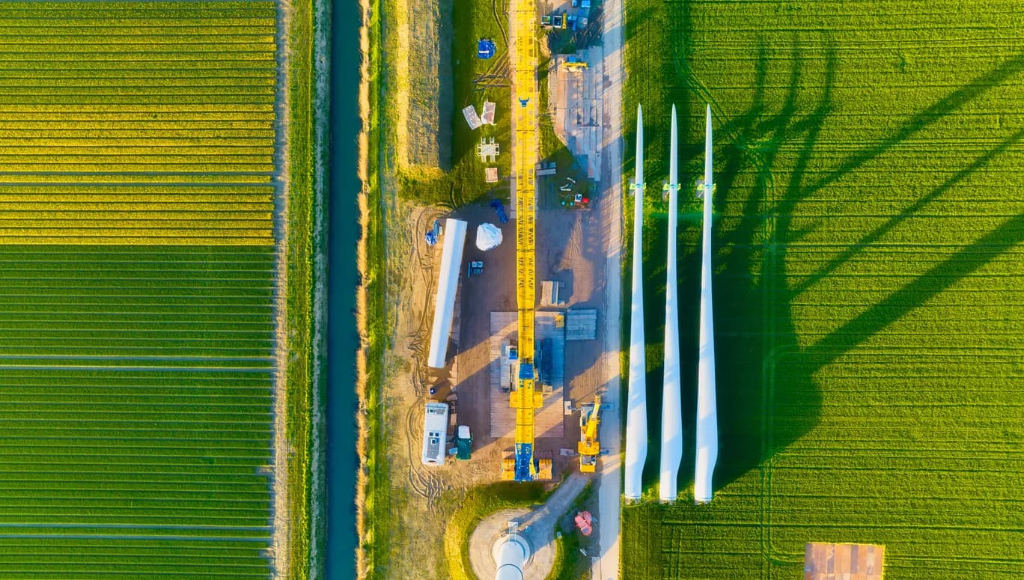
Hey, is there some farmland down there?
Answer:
Yes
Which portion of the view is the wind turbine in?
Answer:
bottom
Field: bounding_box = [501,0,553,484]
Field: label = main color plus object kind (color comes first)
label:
yellow crane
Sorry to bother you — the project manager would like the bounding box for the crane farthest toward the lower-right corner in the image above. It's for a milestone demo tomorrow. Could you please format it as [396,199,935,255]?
[560,392,616,473]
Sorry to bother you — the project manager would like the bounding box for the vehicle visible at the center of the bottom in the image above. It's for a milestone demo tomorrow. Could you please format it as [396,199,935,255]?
[454,427,472,461]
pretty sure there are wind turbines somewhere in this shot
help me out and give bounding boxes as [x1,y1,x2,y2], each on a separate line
[494,521,531,580]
